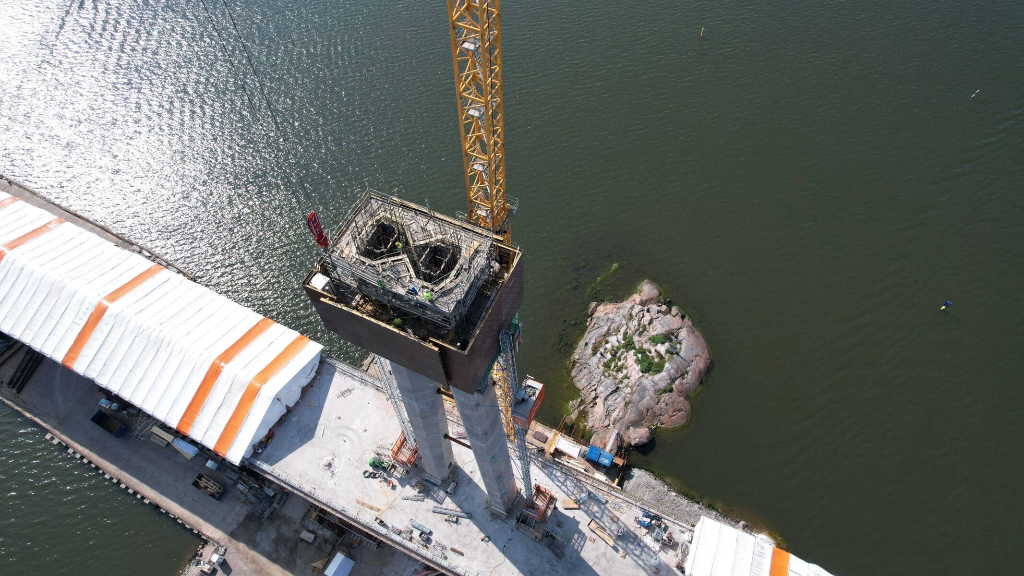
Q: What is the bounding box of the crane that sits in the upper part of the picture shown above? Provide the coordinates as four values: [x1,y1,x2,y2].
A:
[445,0,523,445]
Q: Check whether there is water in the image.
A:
Yes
